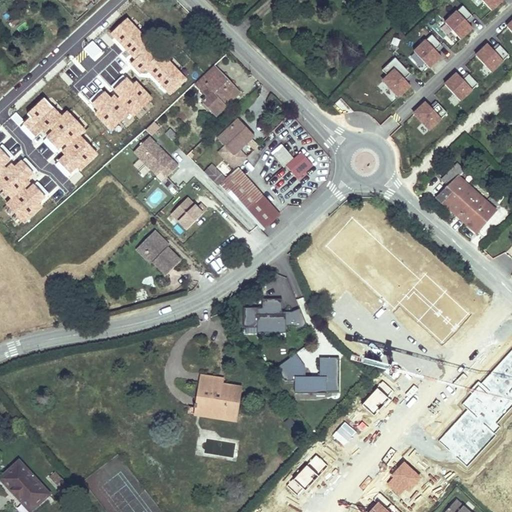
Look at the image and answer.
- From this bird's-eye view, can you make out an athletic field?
Yes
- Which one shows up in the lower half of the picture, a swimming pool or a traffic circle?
swimming pool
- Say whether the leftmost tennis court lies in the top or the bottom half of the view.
bottom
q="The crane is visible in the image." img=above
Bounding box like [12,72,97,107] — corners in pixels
[351,354,512,400]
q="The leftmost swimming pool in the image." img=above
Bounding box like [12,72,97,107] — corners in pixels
[145,186,168,210]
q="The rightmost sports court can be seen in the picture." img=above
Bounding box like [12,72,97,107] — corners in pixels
[399,274,472,346]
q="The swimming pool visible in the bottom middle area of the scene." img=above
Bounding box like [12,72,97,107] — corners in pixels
[195,430,239,461]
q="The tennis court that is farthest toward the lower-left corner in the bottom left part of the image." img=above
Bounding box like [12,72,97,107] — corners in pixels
[86,455,162,512]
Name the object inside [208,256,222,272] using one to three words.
vehicle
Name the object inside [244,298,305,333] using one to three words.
house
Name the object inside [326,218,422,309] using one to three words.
sports field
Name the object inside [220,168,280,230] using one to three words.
building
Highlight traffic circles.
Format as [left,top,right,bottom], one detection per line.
[334,132,396,193]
